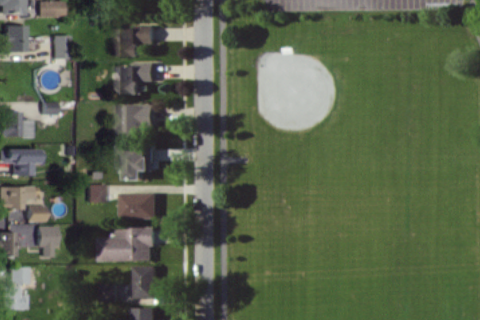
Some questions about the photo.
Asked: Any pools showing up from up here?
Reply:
Yes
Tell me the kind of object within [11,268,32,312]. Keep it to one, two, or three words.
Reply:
house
